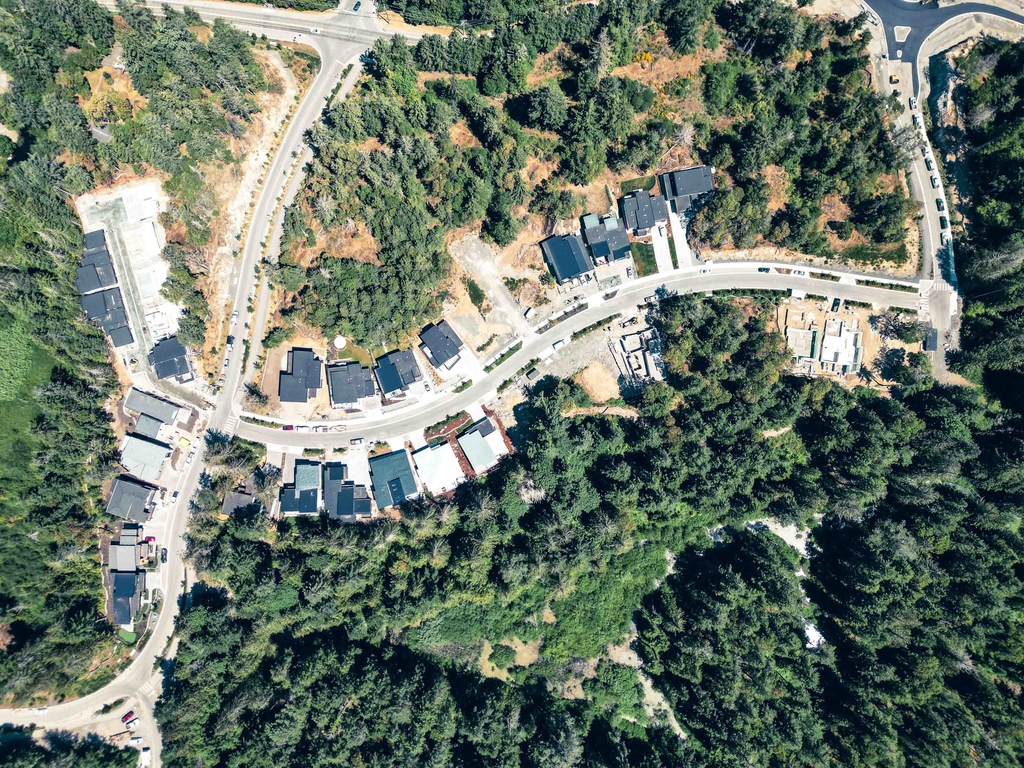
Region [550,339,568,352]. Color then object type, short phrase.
white vehicle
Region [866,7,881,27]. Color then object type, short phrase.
white vehicle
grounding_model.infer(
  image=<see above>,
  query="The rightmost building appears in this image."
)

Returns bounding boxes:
[920,328,937,351]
